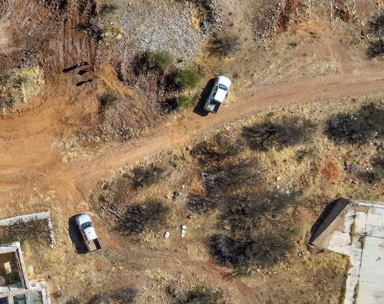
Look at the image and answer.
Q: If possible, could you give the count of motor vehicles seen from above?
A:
two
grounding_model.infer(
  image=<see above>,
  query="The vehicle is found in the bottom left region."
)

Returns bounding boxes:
[74,211,103,254]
